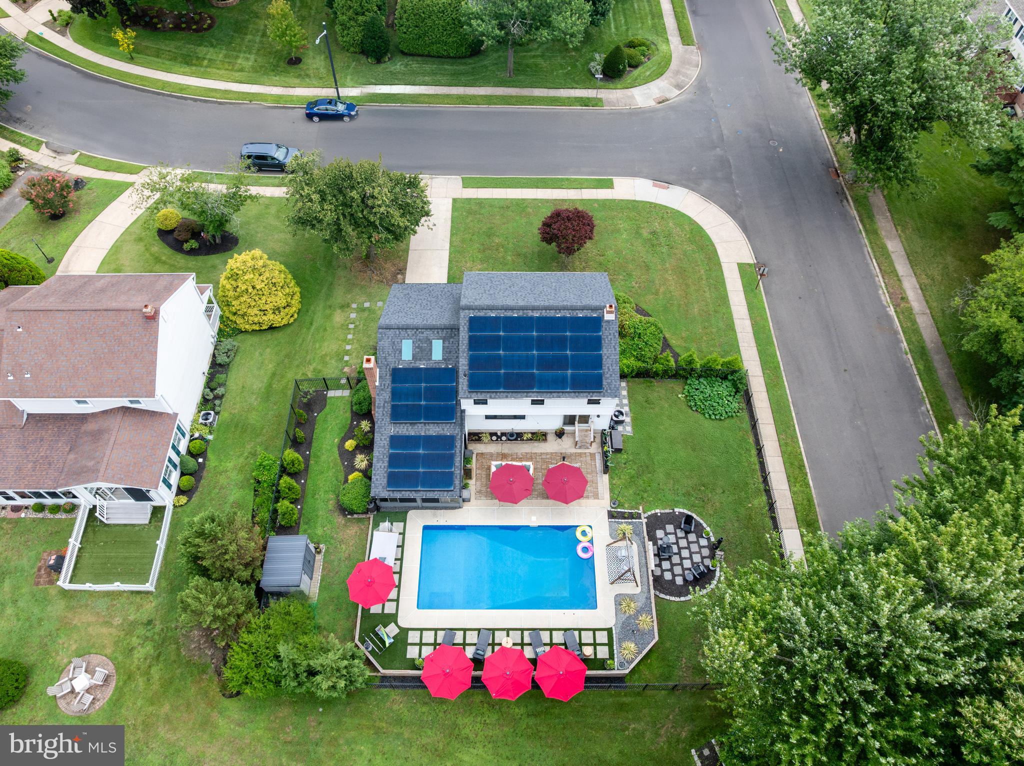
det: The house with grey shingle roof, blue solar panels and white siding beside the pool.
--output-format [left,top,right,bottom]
[360,271,620,509]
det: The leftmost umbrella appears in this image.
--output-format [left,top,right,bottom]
[344,561,397,611]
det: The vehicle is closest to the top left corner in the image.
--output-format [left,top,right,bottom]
[238,140,302,172]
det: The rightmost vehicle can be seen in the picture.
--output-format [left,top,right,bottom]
[304,96,359,120]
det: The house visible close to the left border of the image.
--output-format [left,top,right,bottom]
[0,273,218,505]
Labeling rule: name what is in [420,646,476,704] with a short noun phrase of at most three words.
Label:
umbrella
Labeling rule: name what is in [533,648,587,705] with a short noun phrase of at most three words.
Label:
umbrella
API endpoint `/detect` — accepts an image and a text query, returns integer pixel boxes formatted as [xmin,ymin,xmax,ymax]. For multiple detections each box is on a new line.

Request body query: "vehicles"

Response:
[304,96,359,120]
[238,140,302,172]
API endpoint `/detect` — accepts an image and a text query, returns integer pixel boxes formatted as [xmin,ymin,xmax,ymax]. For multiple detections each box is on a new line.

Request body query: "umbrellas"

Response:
[480,648,536,706]
[533,648,587,705]
[488,465,534,507]
[344,561,397,611]
[420,646,476,704]
[541,465,588,507]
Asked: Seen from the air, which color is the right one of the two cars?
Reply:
blue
